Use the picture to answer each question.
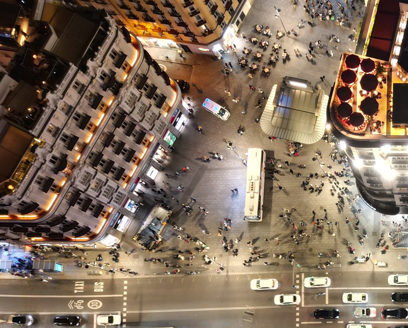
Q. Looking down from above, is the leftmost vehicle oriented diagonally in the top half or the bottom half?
top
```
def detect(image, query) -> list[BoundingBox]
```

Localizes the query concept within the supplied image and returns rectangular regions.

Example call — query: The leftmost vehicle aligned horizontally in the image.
[7,314,36,327]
